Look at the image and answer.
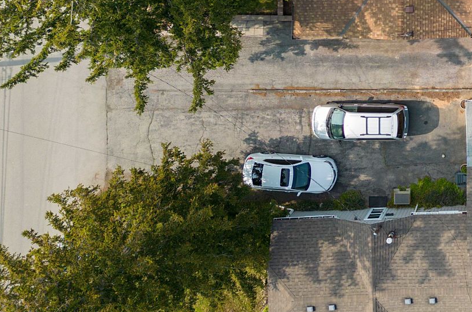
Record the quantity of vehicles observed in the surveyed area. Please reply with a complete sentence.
Looking from above, you can make out 2 vehicles.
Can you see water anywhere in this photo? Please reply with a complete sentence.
No, there is no water in the image.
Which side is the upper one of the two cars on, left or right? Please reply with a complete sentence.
You can find the upper one of the two cars on the right side of the picture.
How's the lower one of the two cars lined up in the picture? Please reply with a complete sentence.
The lower one of the two cars is laid out from left to right.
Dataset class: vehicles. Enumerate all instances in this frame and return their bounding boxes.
[314,97,412,146]
[242,150,339,198]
